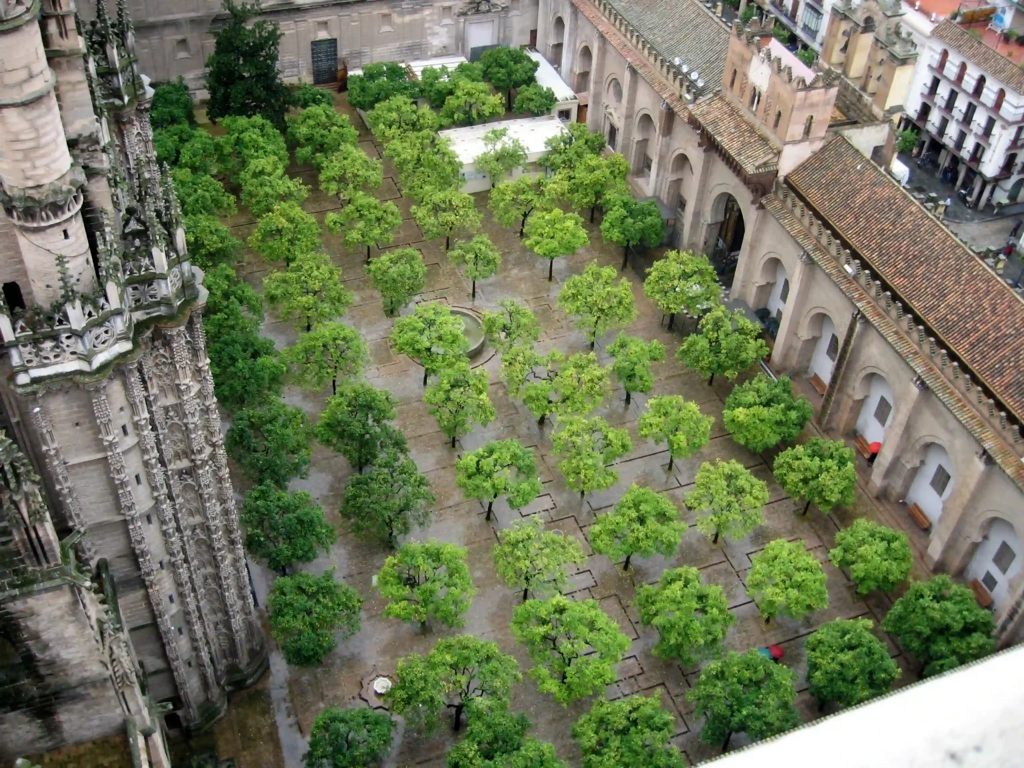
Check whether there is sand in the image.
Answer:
No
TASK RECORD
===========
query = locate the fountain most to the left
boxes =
[374,676,391,695]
